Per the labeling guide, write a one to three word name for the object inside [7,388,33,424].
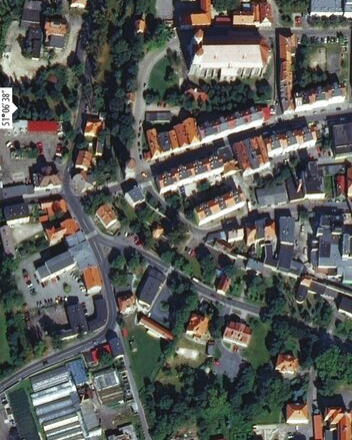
shed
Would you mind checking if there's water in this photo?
No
